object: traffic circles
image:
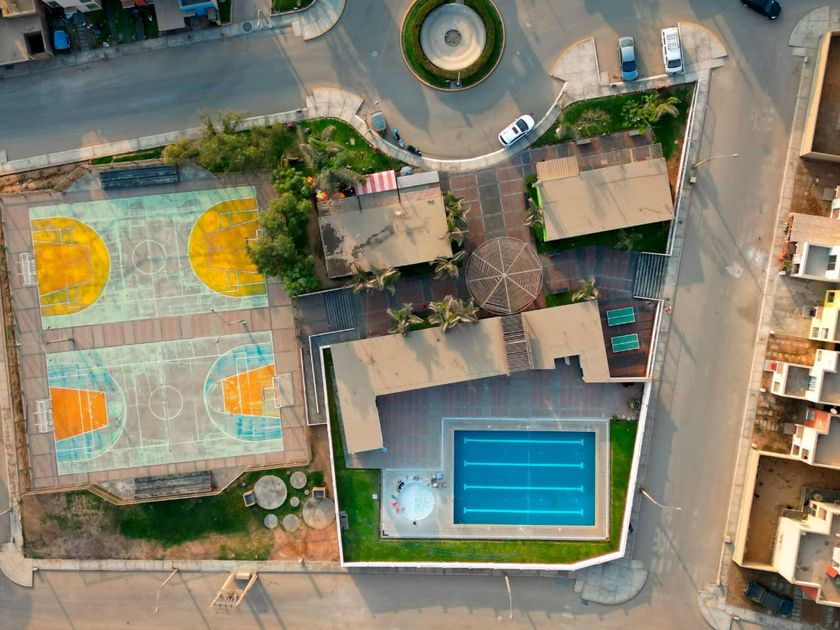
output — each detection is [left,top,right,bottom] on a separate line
[400,0,505,92]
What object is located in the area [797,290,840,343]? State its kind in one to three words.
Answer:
house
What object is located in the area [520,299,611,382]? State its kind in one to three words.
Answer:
building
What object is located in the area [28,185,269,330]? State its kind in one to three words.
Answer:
sports court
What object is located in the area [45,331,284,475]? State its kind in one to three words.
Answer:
sports court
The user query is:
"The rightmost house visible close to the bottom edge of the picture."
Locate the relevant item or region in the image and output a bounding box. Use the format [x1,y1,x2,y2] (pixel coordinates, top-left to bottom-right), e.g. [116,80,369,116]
[775,502,840,607]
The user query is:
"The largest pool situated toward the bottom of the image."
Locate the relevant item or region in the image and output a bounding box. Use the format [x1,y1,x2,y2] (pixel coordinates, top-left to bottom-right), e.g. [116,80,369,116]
[441,418,610,540]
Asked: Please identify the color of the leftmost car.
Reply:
blue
